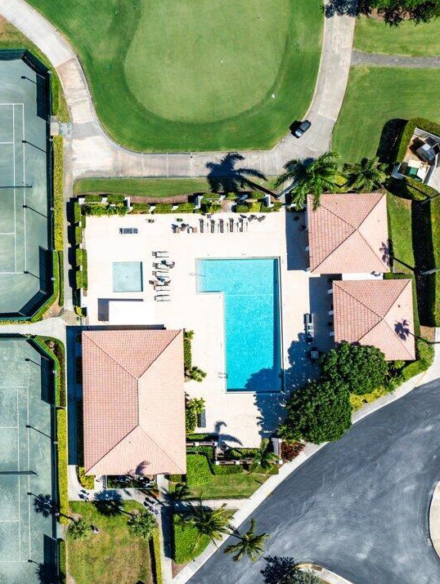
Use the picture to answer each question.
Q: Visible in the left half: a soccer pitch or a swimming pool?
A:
swimming pool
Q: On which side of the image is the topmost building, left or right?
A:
right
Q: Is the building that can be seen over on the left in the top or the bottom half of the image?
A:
bottom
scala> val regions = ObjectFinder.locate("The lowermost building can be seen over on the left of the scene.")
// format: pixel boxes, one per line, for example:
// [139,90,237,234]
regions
[82,329,187,476]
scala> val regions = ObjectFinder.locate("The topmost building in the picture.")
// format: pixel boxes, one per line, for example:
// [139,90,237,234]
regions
[298,193,390,274]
